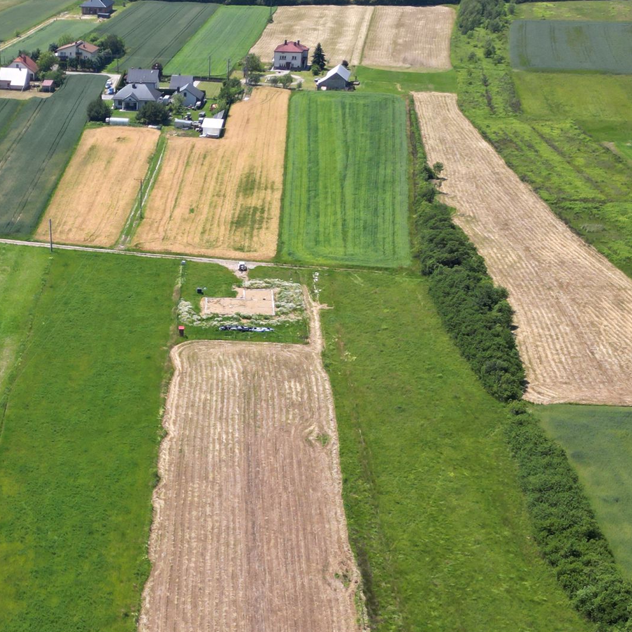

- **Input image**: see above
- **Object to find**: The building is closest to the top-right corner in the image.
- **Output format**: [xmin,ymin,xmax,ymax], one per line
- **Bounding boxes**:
[317,63,353,92]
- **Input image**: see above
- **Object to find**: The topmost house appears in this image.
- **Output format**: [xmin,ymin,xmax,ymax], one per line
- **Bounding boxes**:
[80,0,112,14]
